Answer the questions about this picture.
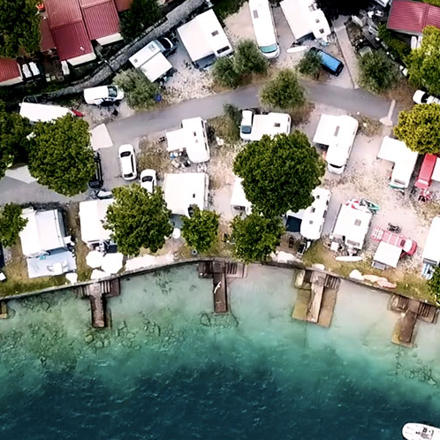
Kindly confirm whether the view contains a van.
Yes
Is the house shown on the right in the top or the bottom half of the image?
top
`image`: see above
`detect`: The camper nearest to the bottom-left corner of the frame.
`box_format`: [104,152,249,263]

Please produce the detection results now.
[21,208,75,259]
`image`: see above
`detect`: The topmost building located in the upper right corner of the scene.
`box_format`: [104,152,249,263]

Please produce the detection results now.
[387,0,440,38]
